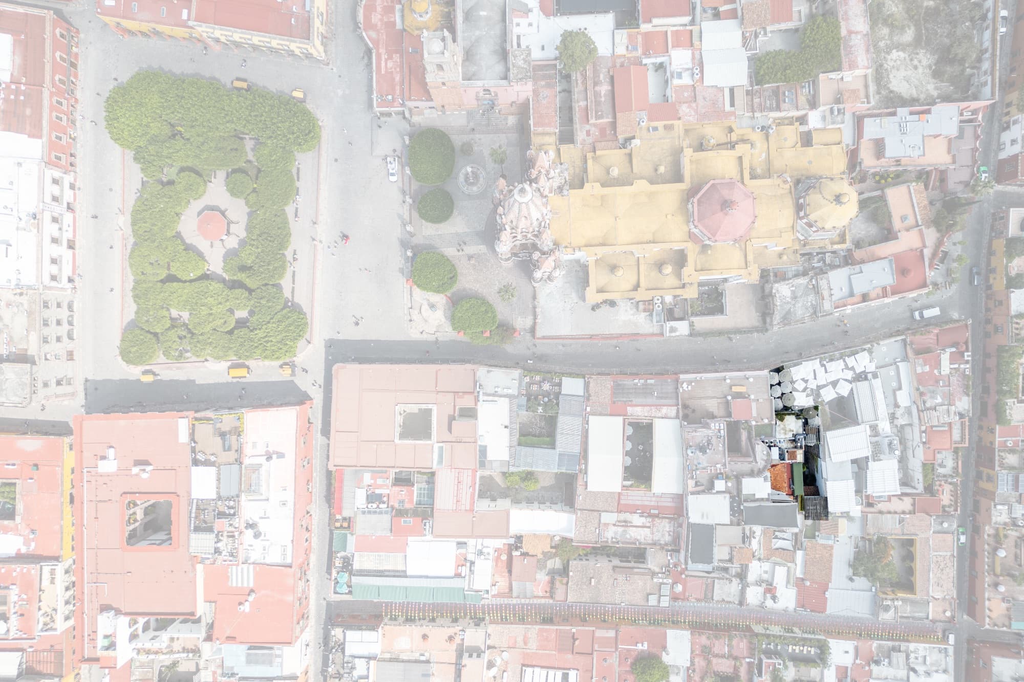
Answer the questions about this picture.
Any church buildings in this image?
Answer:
Yes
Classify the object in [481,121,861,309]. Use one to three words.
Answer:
church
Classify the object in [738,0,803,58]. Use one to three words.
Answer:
house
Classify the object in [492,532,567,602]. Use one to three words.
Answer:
building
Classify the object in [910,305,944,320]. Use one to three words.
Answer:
vehicle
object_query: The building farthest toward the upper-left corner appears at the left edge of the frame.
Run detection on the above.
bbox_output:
[0,2,81,104]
